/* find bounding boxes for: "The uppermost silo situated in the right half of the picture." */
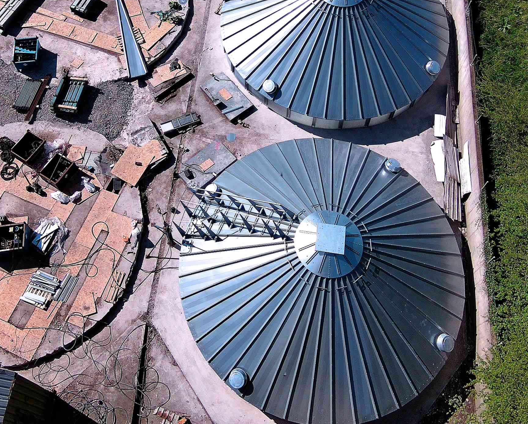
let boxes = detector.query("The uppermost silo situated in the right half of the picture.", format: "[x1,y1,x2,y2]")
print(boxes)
[220,0,450,128]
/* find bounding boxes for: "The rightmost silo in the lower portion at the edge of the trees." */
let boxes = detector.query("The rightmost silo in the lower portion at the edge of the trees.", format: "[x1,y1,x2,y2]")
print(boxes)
[171,135,470,424]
